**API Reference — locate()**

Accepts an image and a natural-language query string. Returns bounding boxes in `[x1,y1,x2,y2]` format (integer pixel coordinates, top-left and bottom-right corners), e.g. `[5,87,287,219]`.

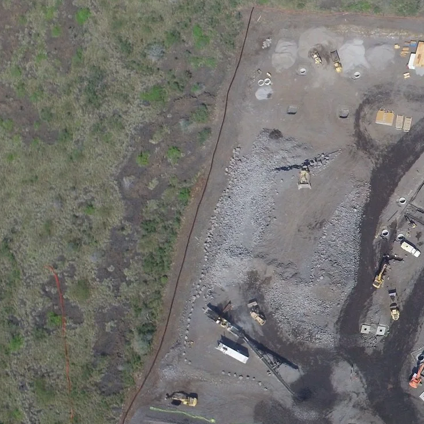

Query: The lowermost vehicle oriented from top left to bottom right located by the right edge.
[398,239,421,258]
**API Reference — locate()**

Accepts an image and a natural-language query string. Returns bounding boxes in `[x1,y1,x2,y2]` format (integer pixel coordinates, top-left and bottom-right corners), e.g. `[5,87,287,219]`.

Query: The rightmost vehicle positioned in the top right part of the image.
[327,48,342,71]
